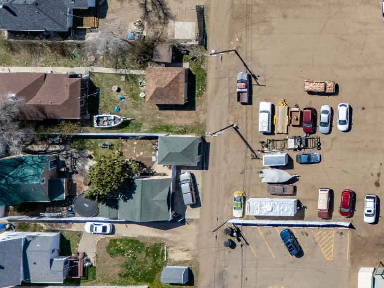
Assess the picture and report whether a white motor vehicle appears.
Yes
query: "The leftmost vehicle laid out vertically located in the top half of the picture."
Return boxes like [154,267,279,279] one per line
[234,72,250,104]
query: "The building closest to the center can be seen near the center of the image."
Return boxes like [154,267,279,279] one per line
[158,135,204,166]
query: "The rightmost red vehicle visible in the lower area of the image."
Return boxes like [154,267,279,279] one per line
[342,188,355,217]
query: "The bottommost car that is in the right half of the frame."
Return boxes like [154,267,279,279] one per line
[279,227,303,257]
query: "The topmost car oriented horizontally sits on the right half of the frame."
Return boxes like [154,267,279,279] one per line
[305,80,335,93]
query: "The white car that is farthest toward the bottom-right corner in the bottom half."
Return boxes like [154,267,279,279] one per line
[364,193,378,222]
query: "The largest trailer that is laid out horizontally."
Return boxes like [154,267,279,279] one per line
[247,194,310,215]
